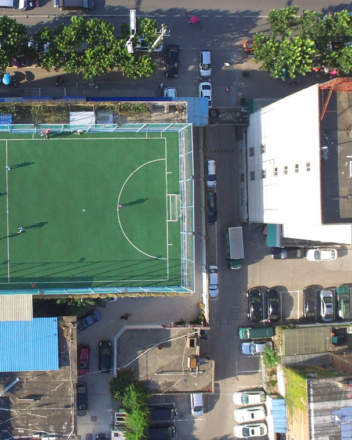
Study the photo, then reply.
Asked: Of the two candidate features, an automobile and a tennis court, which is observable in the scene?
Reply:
automobile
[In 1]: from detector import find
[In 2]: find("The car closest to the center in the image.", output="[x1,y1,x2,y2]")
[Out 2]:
[204,191,219,225]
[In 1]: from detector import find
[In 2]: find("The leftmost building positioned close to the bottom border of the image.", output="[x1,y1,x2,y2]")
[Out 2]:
[0,312,77,440]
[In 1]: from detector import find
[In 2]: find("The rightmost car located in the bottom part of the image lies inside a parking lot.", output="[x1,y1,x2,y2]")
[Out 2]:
[335,285,352,320]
